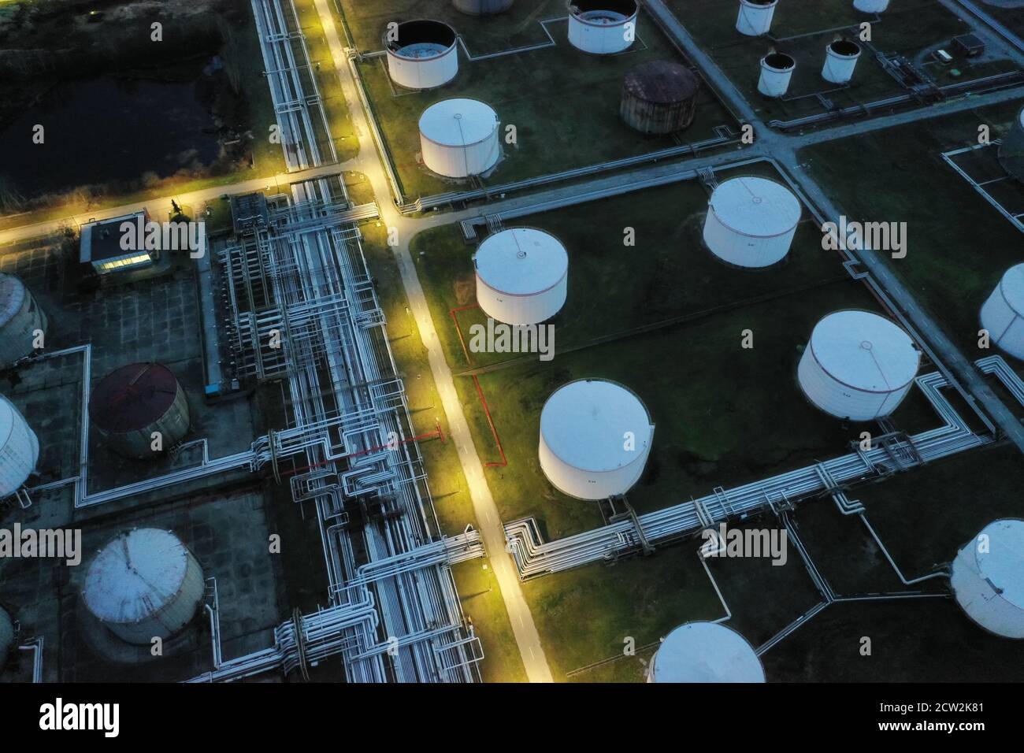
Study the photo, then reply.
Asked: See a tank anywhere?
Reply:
Yes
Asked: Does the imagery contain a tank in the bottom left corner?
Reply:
Yes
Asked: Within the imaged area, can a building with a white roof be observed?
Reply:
No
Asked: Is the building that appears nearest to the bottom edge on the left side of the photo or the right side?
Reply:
left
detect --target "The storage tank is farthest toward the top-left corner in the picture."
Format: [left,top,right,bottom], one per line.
[0,270,48,369]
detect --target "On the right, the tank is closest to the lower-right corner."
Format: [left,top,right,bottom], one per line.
[948,515,1024,642]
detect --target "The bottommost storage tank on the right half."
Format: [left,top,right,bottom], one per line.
[641,616,769,753]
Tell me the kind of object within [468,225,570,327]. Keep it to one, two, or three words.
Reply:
storage tank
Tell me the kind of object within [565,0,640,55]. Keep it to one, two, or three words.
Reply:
storage tank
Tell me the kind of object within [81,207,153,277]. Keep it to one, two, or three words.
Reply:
building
